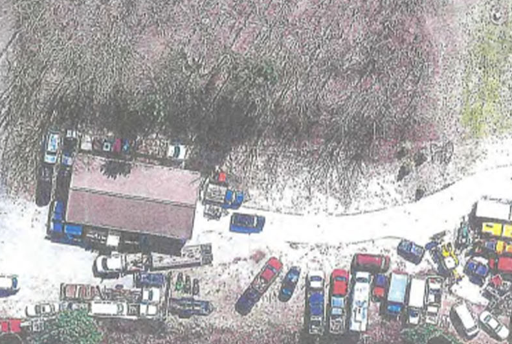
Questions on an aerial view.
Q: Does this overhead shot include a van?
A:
Yes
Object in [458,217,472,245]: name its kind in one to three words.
vehicle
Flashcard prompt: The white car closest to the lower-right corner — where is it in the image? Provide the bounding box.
[478,308,512,341]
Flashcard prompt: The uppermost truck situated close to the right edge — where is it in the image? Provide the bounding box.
[474,198,512,222]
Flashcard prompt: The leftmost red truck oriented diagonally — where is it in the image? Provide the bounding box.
[249,259,281,298]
